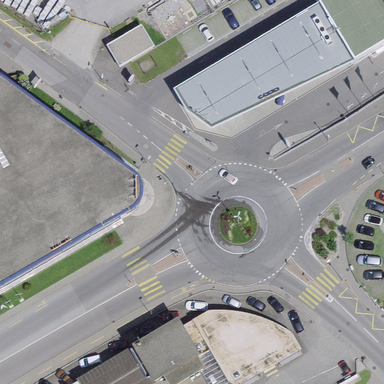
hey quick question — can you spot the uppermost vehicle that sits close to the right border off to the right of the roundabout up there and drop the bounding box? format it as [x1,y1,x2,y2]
[360,156,376,169]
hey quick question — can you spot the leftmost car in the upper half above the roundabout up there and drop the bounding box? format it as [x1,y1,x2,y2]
[198,23,213,42]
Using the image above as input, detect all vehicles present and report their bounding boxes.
[360,156,376,169]
[218,170,238,186]
[286,310,304,333]
[362,270,384,280]
[221,293,242,309]
[353,240,374,250]
[266,294,284,314]
[374,190,384,202]
[356,255,381,266]
[354,224,376,236]
[198,23,213,42]
[337,358,352,377]
[364,198,384,214]
[248,0,260,10]
[264,0,274,6]
[52,365,70,384]
[185,300,208,310]
[221,7,238,30]
[362,212,383,226]
[77,354,102,368]
[159,309,180,323]
[245,294,266,312]
[105,338,129,352]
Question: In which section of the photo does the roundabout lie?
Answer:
center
